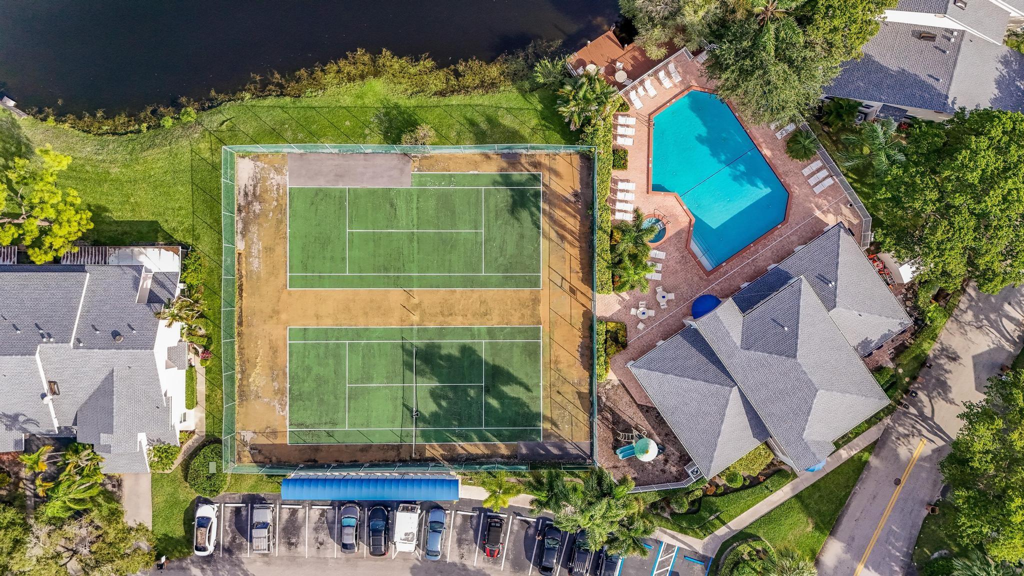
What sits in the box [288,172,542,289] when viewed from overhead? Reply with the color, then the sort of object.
green tennis court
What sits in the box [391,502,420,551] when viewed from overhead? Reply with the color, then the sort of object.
white van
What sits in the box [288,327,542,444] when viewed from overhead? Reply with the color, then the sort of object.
green tennis court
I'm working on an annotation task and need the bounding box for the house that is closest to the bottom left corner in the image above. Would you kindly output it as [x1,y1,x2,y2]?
[0,246,194,473]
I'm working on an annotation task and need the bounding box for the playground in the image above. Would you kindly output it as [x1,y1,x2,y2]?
[595,374,707,492]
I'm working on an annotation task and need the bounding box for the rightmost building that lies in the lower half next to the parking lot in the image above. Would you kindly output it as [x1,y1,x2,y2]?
[622,221,913,479]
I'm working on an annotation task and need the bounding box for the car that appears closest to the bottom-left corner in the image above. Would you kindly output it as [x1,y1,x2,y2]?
[192,500,219,555]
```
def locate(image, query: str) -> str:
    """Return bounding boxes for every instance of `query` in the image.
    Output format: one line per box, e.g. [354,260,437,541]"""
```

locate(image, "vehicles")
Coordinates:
[481,515,505,557]
[536,521,562,576]
[337,501,362,553]
[391,502,420,551]
[424,506,448,560]
[365,504,390,557]
[249,502,277,554]
[192,500,219,555]
[565,530,592,576]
